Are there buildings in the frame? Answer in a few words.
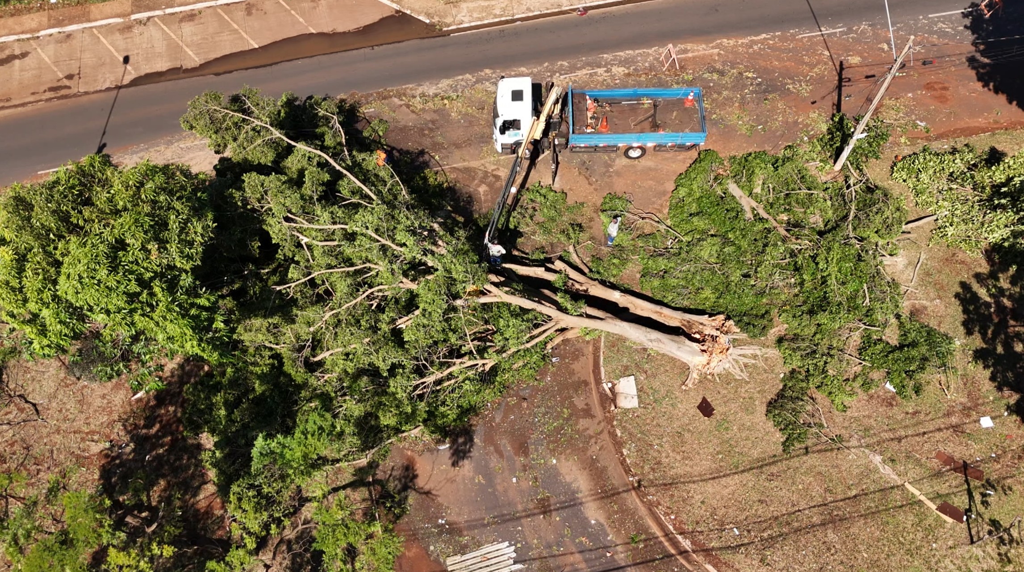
No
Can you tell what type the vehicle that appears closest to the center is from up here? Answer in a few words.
truck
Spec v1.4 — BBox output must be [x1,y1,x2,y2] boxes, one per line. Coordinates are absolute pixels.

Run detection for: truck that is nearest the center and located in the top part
[484,81,709,280]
